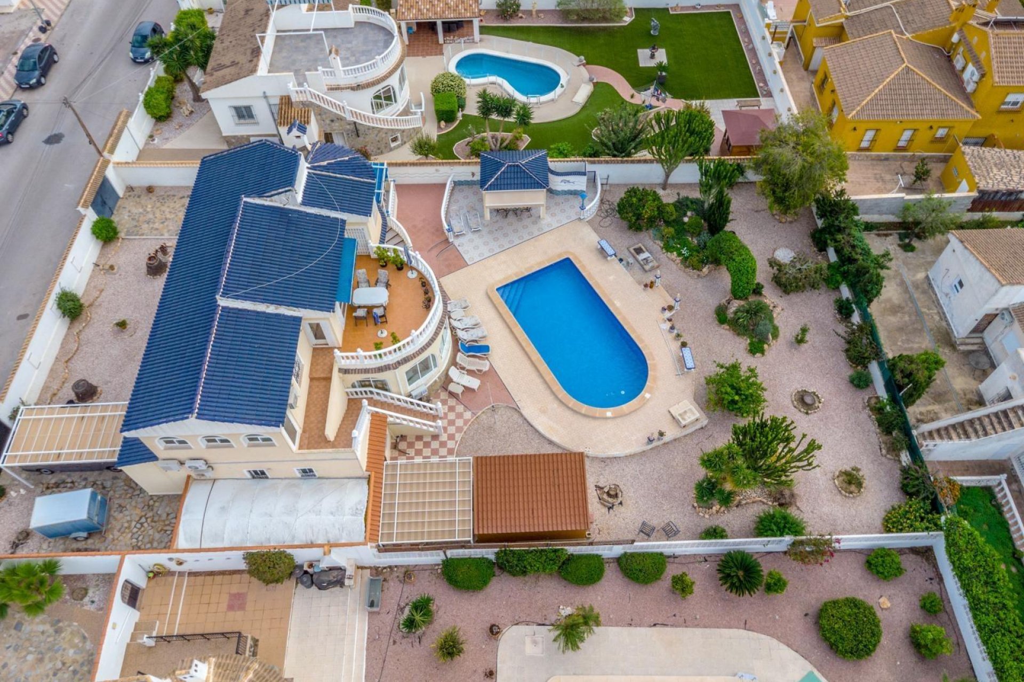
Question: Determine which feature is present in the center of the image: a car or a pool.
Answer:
pool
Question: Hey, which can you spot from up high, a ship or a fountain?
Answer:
fountain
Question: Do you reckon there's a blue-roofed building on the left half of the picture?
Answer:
Yes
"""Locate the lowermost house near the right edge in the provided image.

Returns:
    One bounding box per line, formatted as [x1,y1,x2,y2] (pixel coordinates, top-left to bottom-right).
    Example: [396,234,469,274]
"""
[926,229,1024,367]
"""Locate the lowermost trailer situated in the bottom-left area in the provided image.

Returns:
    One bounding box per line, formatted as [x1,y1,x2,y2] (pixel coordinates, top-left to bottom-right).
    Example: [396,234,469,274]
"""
[26,489,116,540]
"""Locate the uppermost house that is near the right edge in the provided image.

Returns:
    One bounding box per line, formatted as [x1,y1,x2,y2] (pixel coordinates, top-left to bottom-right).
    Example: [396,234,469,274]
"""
[763,0,1024,164]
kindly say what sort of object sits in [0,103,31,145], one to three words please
car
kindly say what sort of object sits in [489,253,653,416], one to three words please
swimming pool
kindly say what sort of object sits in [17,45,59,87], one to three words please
car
